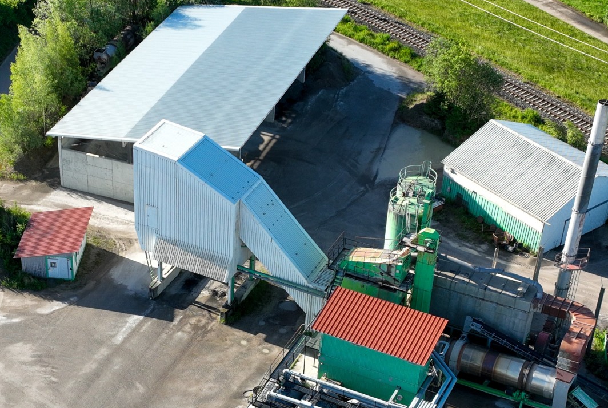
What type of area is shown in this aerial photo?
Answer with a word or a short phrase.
industrial area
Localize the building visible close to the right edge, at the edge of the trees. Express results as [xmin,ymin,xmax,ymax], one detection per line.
[438,122,608,260]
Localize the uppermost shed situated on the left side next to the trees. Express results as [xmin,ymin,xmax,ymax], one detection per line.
[46,2,348,200]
